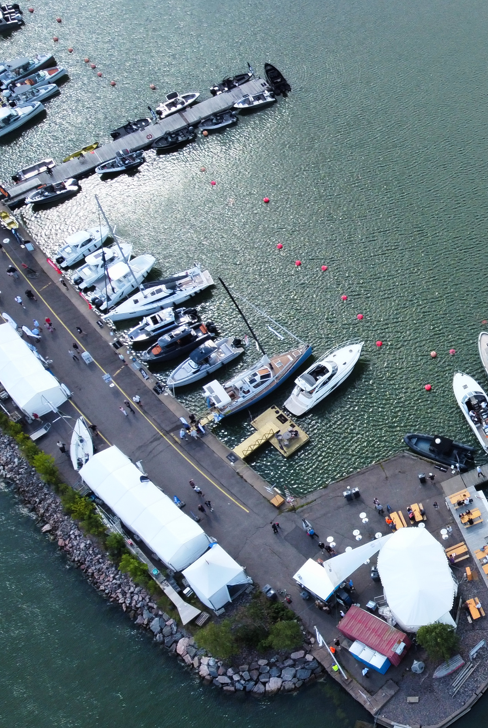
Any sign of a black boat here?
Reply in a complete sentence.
Yes, there's a black boat here.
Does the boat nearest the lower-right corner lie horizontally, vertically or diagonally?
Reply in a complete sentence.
The boat nearest the lower-right corner has been laid out diagonally relative to the frame.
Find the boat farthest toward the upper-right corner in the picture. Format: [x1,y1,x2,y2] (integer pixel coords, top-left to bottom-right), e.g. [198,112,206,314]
[265,64,291,99]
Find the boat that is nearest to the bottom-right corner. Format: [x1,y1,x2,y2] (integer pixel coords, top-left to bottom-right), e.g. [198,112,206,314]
[432,652,465,678]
